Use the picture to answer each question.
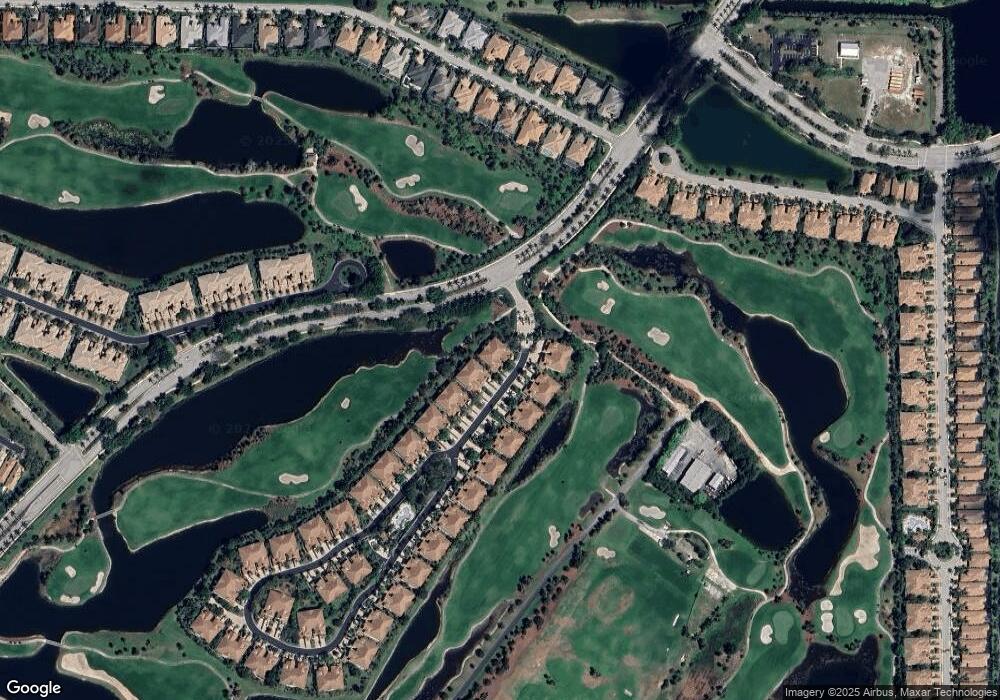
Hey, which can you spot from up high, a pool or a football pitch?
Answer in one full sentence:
I can see a pool in this picture.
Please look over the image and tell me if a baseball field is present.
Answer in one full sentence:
No, no baseball field can be seen from above.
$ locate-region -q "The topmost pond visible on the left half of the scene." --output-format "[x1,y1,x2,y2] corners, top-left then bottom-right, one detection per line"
[173,61,386,166]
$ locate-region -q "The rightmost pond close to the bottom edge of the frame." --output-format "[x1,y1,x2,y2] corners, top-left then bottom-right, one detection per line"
[776,636,877,700]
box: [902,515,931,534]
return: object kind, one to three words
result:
swimming pool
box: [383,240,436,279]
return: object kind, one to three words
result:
pond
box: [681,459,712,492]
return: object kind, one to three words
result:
building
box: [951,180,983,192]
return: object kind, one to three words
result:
house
